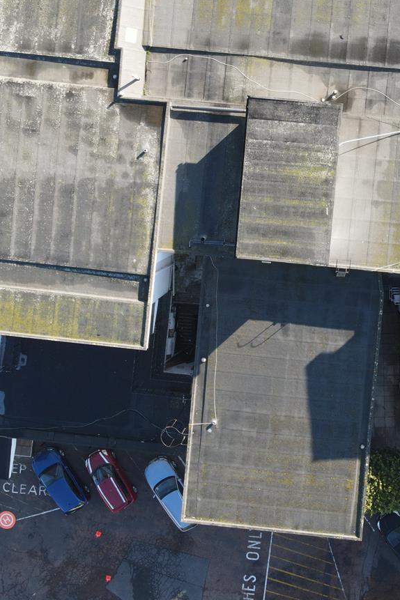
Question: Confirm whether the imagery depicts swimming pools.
No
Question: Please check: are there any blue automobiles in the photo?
Yes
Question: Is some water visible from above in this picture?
No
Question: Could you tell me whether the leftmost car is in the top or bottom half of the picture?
bottom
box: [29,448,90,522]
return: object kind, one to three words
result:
car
